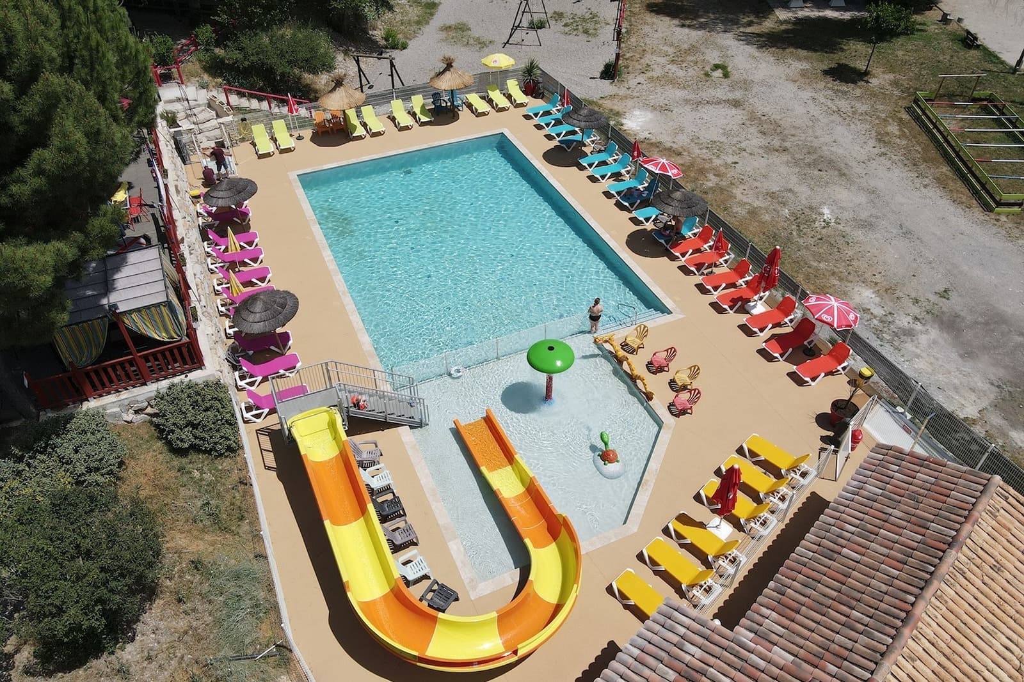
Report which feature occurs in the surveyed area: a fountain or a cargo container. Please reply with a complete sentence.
Looking from above, you can make out a fountain.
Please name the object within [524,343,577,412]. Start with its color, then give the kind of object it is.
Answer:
green fountain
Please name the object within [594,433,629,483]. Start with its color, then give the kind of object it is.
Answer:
white fountain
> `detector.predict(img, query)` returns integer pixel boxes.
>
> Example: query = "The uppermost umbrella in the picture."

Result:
[474,51,508,69]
